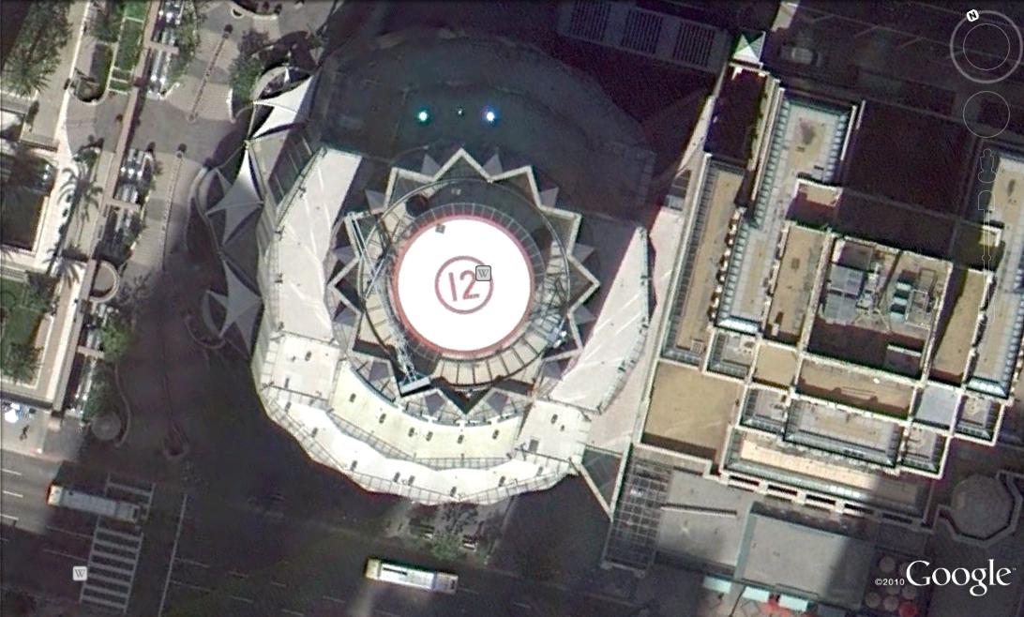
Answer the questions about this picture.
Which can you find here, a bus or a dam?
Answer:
bus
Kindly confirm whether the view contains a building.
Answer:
Yes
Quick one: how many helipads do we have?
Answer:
1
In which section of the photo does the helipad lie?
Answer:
center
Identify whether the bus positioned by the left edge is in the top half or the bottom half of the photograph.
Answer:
bottom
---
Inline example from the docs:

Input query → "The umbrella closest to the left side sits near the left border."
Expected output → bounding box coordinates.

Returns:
[2,403,21,422]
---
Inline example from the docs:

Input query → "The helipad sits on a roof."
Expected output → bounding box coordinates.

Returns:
[378,197,553,372]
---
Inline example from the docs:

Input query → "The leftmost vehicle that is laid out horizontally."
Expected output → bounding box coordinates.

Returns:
[48,481,146,521]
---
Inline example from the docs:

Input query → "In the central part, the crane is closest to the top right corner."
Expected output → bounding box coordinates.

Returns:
[532,251,571,343]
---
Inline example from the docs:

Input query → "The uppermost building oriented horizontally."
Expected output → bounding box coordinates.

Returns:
[558,0,728,73]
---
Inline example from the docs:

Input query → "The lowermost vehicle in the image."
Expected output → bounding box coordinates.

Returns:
[361,558,460,592]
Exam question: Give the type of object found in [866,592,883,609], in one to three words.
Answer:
umbrella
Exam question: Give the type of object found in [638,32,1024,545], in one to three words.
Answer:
building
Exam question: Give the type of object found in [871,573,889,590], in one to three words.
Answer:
umbrella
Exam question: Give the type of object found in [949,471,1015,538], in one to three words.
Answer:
building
